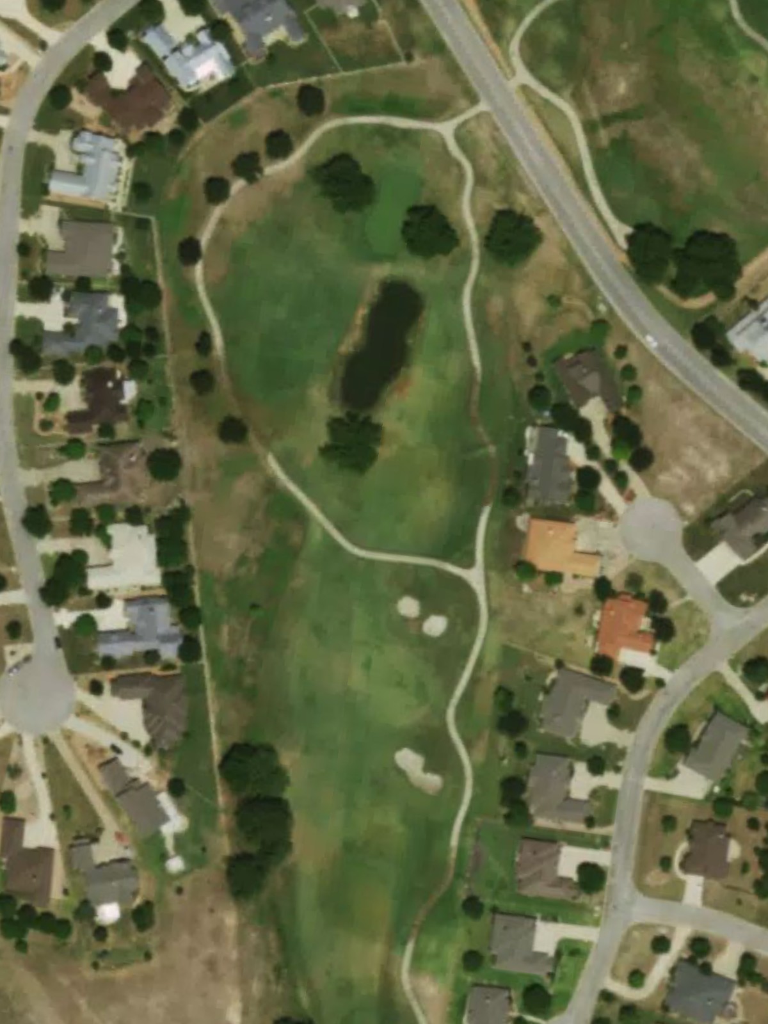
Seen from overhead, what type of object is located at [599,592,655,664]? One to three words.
house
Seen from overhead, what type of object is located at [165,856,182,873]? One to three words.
gazebo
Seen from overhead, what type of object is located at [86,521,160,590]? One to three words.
house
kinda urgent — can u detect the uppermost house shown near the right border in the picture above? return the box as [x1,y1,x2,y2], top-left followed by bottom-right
[725,296,768,362]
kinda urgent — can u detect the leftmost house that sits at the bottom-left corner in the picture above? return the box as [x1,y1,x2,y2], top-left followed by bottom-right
[1,816,54,906]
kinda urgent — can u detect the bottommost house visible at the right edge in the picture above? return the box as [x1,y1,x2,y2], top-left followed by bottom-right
[665,958,739,1024]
